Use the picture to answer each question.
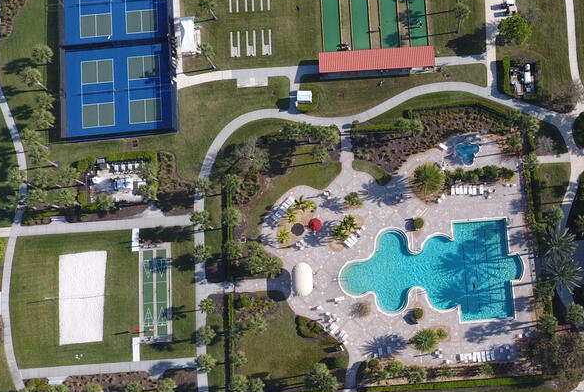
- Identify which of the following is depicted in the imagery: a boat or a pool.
pool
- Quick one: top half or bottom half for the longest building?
top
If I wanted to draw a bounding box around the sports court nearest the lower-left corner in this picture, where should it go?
[49,251,109,345]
